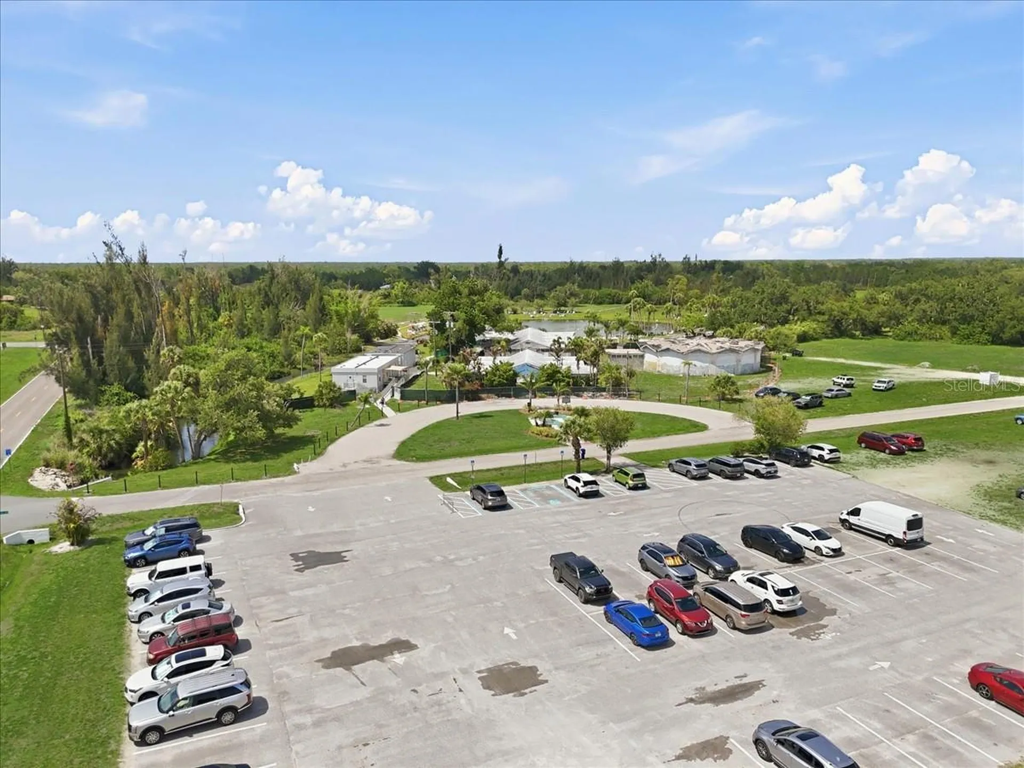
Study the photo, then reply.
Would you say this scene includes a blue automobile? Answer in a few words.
Yes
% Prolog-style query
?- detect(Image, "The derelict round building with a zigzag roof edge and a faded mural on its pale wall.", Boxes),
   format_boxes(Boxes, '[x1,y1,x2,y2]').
[631,327,767,375]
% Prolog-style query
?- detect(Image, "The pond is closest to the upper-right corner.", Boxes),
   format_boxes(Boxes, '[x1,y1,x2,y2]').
[509,320,677,338]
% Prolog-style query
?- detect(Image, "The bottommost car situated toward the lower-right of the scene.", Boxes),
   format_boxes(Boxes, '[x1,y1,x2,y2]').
[749,721,861,768]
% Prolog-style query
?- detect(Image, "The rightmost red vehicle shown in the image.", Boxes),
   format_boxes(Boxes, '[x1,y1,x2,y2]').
[967,662,1024,714]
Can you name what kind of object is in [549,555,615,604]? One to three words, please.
truck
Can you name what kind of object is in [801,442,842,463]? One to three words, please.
car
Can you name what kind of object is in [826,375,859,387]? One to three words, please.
vehicle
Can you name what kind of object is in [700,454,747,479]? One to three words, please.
car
